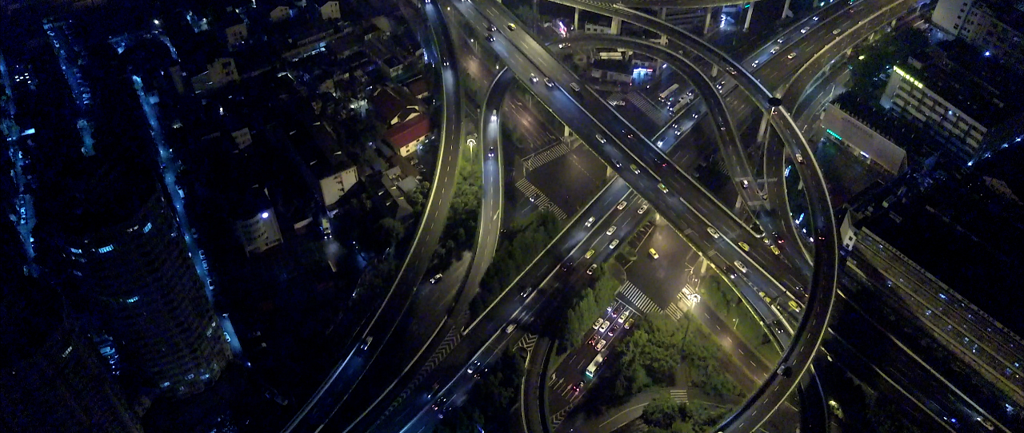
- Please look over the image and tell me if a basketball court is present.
No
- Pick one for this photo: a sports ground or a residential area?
residential area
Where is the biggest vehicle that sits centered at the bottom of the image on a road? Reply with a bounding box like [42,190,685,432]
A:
[582,346,608,379]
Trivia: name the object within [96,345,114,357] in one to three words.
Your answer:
vehicle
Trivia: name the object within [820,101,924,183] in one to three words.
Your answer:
building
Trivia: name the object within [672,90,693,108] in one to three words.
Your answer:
vehicle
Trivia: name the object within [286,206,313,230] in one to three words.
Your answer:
shed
